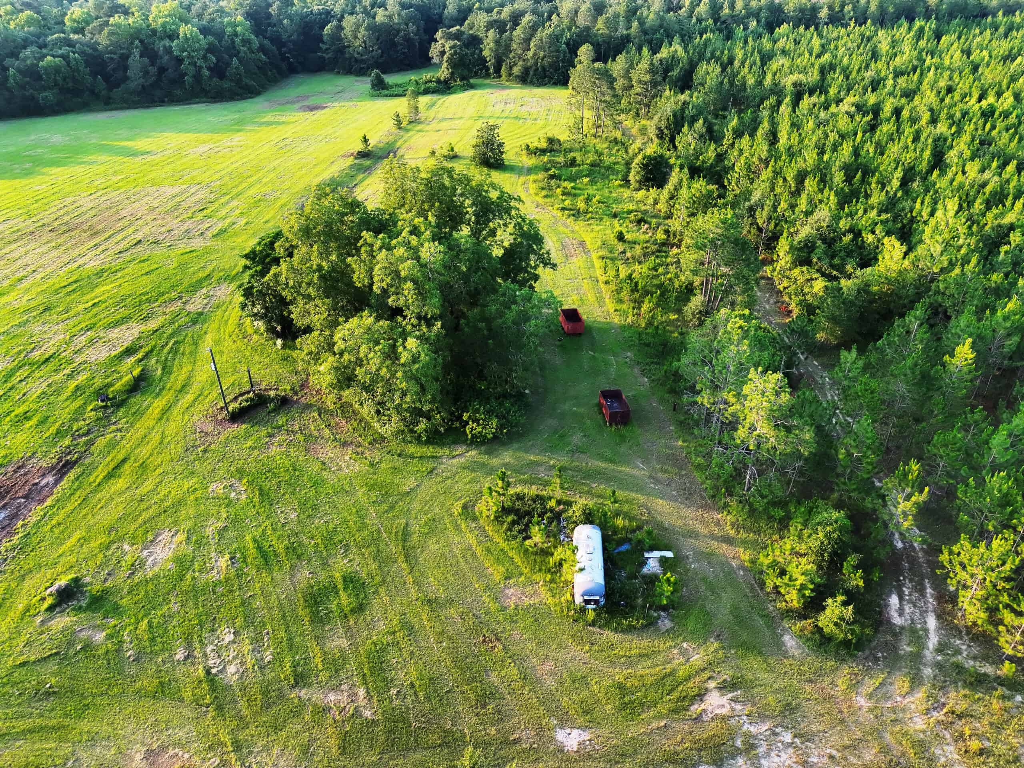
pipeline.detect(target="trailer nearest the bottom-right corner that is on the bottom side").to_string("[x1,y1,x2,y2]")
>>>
[572,521,605,618]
